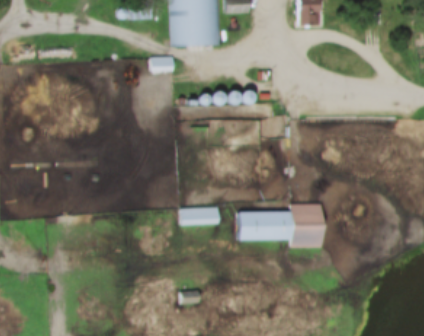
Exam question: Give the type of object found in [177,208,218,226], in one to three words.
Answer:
shed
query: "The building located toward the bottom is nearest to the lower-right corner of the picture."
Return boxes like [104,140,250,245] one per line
[288,204,325,248]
